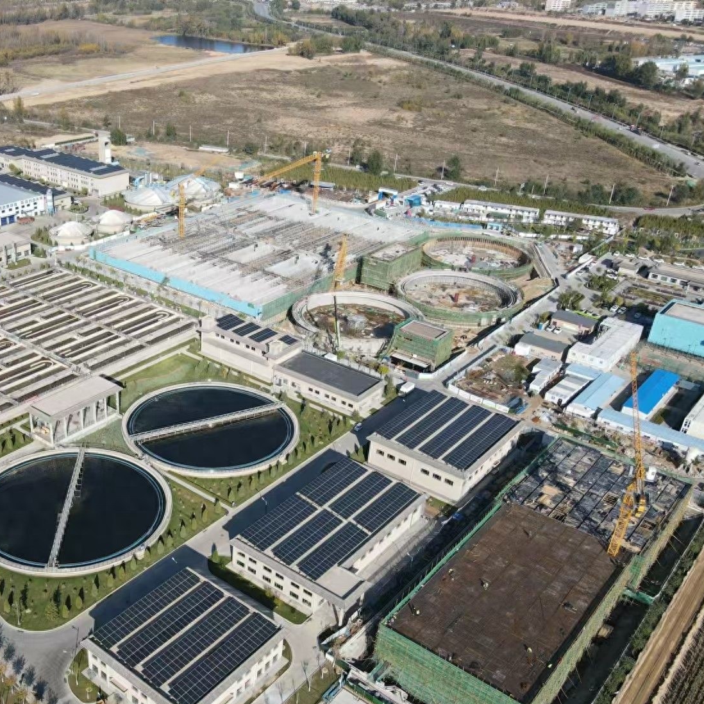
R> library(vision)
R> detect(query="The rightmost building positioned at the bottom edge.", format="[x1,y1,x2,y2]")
[372,438,690,704]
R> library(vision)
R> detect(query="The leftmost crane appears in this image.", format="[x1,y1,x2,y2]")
[170,153,221,240]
